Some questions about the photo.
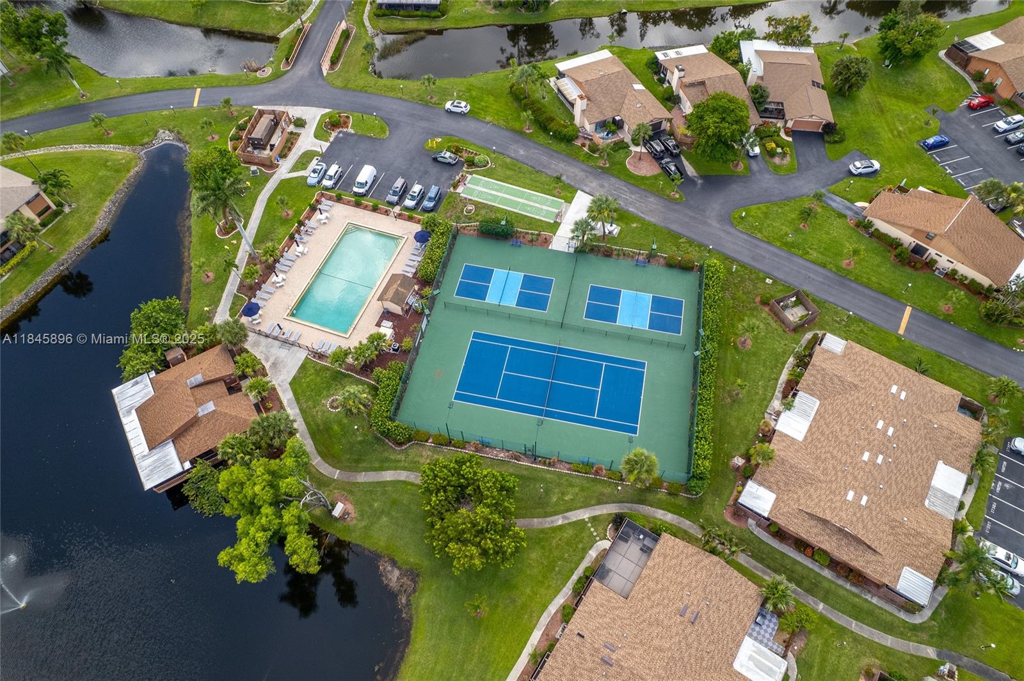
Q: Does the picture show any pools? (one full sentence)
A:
Yes, you can see a pool in this photo.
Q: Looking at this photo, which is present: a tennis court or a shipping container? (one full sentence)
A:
This aerial view contains a tennis court.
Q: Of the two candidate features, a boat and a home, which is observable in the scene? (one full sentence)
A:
Of the two, only a home appears.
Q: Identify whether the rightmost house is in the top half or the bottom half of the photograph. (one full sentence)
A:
Seen from above, the rightmost house lies in the top half of the view.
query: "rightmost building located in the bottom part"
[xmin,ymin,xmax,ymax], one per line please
[733,332,985,611]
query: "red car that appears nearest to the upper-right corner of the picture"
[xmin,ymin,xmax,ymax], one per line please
[967,96,996,110]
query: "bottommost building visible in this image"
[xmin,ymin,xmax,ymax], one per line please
[531,518,789,681]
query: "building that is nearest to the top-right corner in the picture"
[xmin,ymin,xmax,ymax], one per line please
[945,16,1024,107]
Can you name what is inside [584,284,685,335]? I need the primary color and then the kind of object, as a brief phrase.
blue sports court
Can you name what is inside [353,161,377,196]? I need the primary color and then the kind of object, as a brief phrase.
white vehicle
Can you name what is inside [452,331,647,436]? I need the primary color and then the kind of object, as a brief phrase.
blue tennis court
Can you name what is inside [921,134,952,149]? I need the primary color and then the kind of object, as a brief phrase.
blue car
